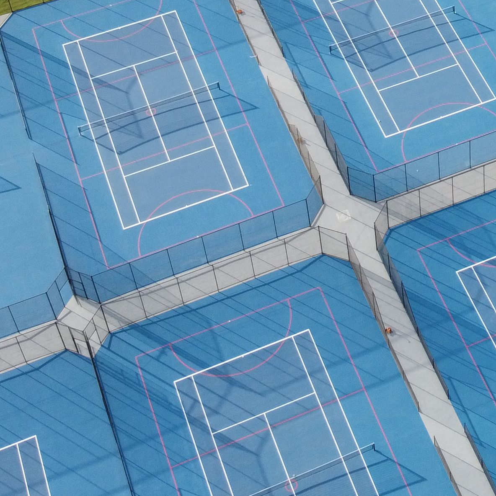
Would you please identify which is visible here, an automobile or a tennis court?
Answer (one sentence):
Of the two, only a tennis court appears.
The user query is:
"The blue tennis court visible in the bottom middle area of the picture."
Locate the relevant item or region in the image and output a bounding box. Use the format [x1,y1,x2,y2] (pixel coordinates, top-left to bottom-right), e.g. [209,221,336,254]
[92,253,457,496]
